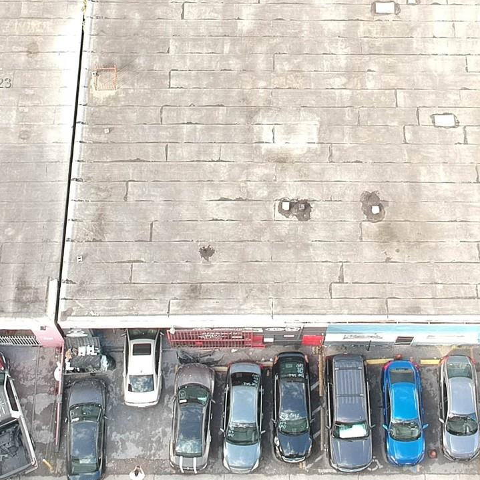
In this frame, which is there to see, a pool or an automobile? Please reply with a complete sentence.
There is an automobile in the scene.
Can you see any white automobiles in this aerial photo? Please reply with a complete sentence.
Yes, you can see a white automobile in this photo.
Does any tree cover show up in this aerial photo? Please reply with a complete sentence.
No, the scene doesn't show any tree cover.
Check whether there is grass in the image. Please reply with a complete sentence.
No, the scene doesn't show any grass.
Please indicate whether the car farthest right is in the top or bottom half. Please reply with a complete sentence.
Seen from above, the car farthest right lies in the bottom half of the view.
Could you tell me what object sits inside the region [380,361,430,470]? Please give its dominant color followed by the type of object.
blue car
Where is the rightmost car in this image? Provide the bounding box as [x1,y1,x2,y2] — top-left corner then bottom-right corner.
[435,357,480,464]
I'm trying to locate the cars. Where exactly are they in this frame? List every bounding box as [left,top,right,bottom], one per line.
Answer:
[380,361,430,470]
[322,355,376,475]
[435,357,480,464]
[58,378,110,480]
[119,333,164,408]
[268,353,317,466]
[166,364,217,476]
[218,364,267,476]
